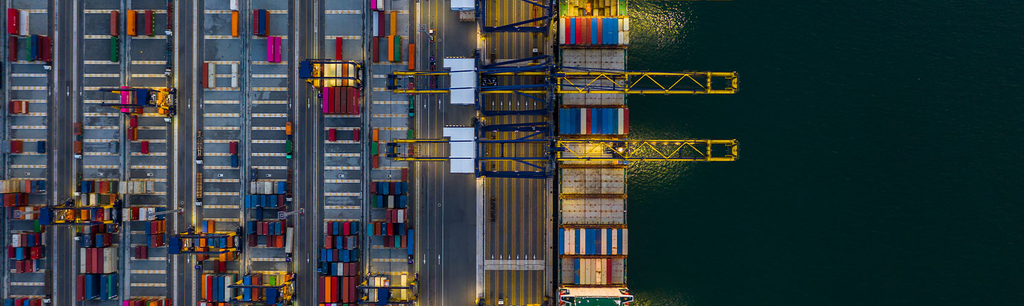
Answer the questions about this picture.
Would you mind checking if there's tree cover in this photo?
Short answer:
No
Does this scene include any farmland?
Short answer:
No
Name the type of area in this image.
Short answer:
port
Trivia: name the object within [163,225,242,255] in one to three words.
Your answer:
container crane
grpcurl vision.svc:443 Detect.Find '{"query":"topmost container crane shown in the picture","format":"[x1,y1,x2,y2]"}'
[387,0,739,42]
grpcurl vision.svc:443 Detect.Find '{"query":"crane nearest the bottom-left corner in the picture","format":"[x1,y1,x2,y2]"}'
[36,198,123,226]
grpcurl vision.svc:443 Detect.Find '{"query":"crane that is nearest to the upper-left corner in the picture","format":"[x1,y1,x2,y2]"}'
[95,87,175,116]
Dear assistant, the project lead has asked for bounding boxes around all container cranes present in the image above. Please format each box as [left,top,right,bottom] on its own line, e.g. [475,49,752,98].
[163,225,242,255]
[36,198,123,226]
[387,51,739,122]
[225,272,298,305]
[95,87,175,116]
[387,0,739,42]
[296,60,364,90]
[387,120,739,181]
[355,272,420,306]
